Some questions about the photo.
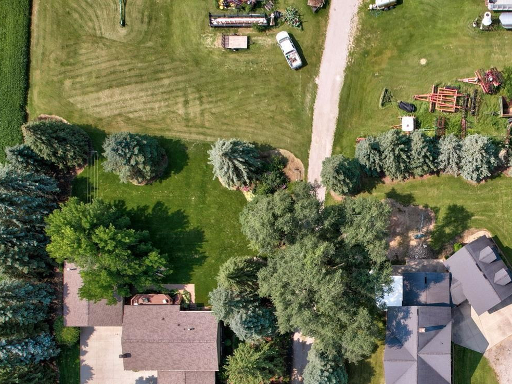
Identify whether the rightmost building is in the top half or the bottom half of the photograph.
bottom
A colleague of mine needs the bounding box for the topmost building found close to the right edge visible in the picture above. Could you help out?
[443,234,512,316]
